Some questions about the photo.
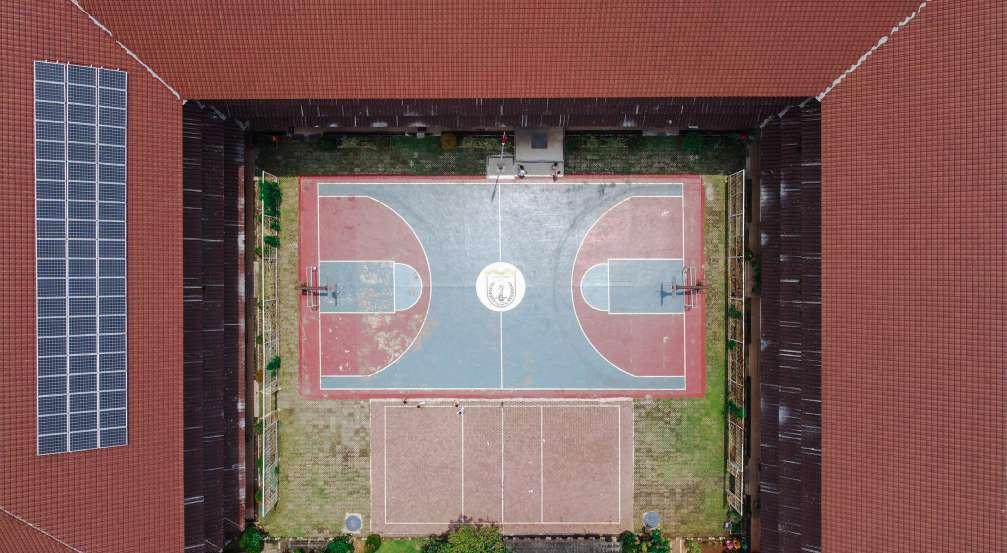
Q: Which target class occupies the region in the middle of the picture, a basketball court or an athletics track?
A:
basketball court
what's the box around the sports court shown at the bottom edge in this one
[370,398,633,535]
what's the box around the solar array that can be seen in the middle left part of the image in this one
[33,60,127,457]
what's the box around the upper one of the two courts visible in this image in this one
[299,175,705,399]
